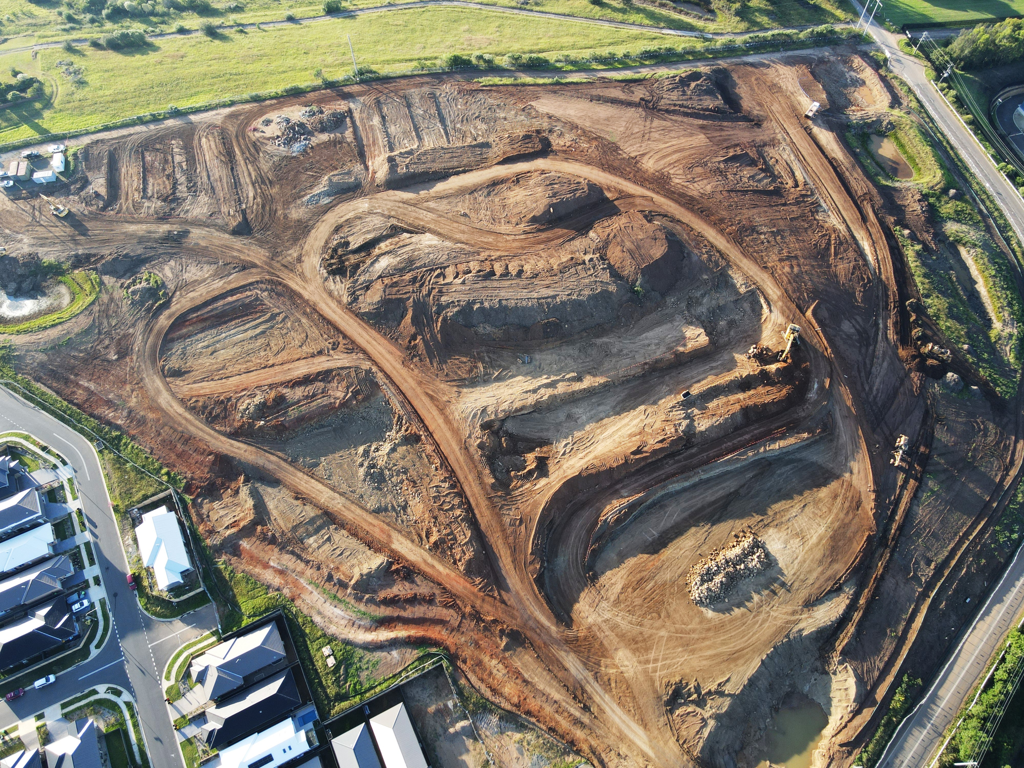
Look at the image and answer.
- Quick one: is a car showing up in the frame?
Yes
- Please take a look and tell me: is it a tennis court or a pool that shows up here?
pool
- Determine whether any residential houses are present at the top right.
No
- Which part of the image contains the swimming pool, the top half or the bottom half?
bottom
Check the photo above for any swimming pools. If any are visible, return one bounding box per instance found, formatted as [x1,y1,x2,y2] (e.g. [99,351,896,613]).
[293,706,318,735]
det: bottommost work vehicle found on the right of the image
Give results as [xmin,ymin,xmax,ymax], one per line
[892,435,910,468]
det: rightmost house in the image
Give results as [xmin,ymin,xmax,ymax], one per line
[369,703,428,768]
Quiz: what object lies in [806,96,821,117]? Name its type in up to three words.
vehicle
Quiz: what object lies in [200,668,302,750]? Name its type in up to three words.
house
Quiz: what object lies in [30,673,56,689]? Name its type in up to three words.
car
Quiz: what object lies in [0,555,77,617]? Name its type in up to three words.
house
